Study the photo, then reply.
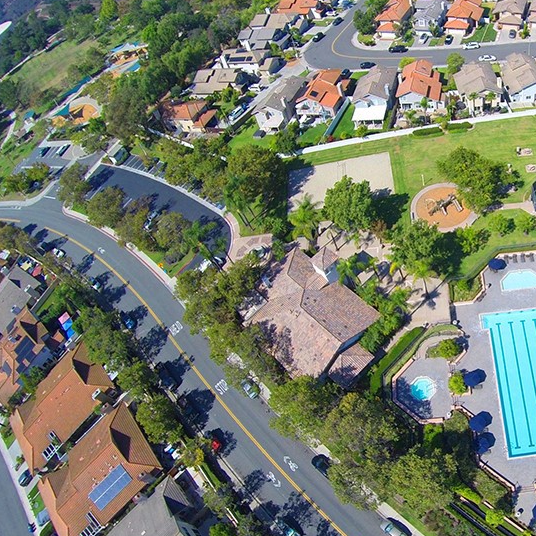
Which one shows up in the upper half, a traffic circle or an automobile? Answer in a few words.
automobile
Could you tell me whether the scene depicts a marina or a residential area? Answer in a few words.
residential area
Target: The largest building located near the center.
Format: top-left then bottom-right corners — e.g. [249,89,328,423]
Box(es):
[229,247,380,389]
